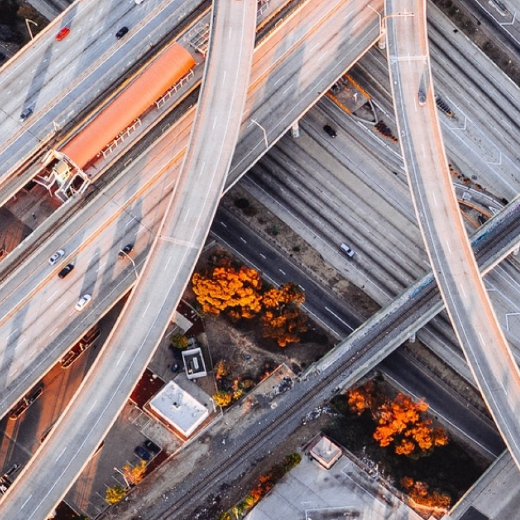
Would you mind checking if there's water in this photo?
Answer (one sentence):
No, there's no water in this view.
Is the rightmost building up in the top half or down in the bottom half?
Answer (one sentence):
The rightmost building is in the bottom half of the image.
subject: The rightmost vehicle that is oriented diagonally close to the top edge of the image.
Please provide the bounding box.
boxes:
[114,25,128,39]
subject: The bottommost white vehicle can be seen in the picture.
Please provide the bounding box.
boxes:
[74,295,91,311]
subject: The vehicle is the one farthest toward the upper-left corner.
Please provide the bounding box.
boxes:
[55,27,70,41]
